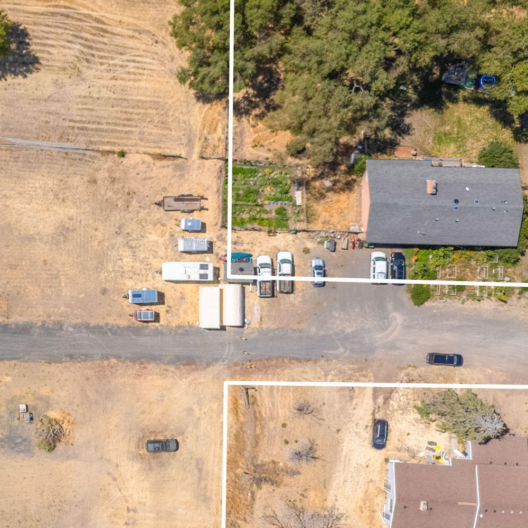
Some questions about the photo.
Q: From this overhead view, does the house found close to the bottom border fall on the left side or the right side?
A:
right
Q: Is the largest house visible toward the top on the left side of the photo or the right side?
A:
right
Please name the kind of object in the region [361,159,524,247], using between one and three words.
house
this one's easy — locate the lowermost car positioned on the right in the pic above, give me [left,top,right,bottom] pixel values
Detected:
[371,418,389,450]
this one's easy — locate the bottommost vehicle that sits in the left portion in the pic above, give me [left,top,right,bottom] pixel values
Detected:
[146,437,178,454]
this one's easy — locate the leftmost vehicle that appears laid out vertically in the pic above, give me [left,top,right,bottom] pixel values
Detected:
[256,256,274,297]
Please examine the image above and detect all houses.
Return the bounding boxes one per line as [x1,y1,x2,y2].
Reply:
[376,435,528,528]
[361,159,524,247]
